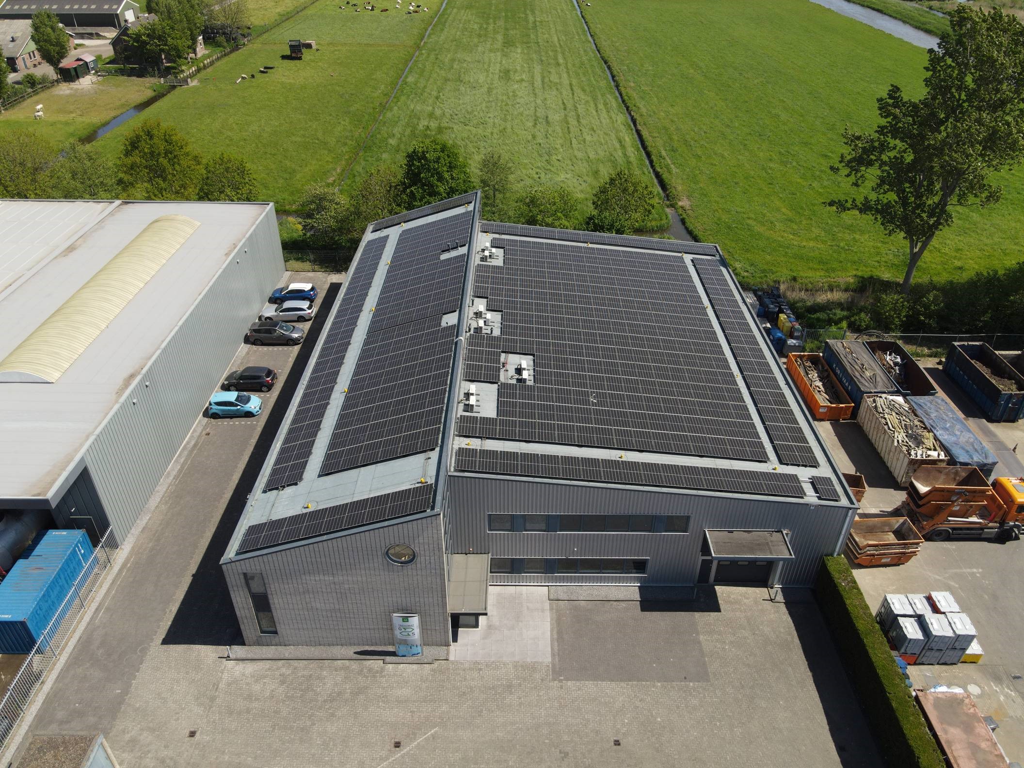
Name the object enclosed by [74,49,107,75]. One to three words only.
shed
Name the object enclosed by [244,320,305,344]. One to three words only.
car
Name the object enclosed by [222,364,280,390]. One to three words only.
car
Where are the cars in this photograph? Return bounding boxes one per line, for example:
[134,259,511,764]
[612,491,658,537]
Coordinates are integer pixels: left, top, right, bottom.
[222,364,280,390]
[207,390,266,418]
[270,279,319,301]
[260,298,317,320]
[244,320,305,344]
